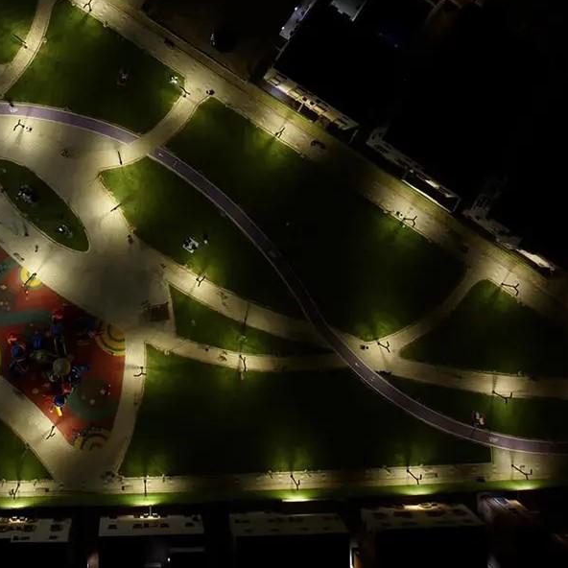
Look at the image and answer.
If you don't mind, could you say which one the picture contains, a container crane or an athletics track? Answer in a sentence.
I can see an athletics track in this picture.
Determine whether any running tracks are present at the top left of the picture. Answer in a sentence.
Yes, a running track shows up at the top left of the picture.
